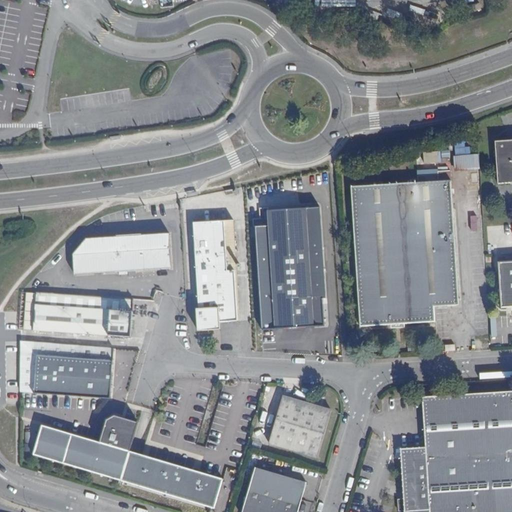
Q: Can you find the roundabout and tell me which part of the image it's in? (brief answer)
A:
top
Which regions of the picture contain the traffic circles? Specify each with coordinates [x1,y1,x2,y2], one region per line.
[238,50,352,165]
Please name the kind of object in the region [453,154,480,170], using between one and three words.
shed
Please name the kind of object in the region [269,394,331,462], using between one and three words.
building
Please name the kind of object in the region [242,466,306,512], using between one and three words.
building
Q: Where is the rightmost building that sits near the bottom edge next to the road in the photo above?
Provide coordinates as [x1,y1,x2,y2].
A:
[422,391,512,512]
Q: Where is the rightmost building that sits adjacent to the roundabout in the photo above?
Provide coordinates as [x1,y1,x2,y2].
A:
[350,180,458,326]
